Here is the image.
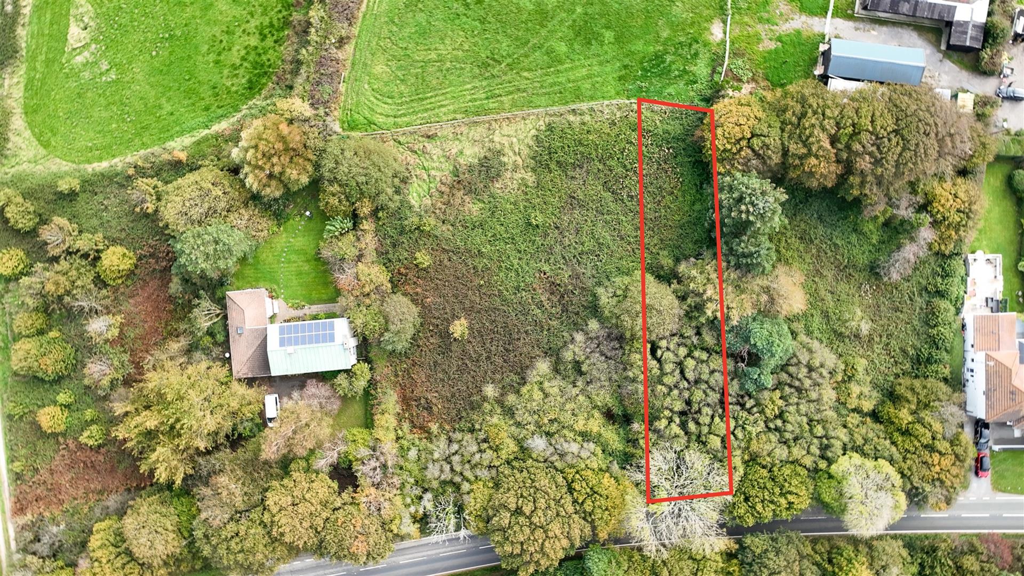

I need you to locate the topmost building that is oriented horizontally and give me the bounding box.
[863,0,989,52]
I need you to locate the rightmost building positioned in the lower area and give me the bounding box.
[965,312,1024,439]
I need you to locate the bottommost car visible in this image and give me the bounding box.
[977,453,993,477]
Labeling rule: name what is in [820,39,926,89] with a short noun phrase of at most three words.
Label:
barn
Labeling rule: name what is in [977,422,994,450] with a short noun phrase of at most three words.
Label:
car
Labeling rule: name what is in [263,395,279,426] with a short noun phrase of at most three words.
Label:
vehicle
